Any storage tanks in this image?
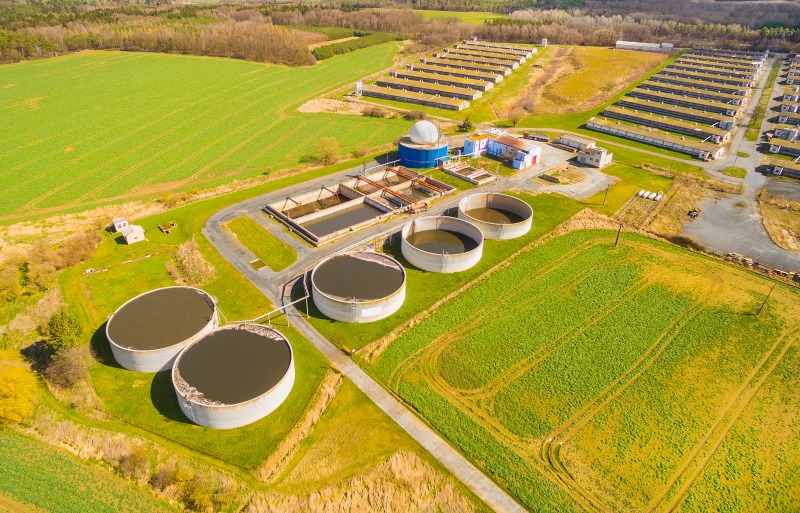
Yes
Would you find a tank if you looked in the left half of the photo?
Yes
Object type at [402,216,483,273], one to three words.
storage tank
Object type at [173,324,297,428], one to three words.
storage tank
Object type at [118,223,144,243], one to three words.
shed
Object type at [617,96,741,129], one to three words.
barn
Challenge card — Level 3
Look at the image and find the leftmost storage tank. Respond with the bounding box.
[105,286,224,372]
